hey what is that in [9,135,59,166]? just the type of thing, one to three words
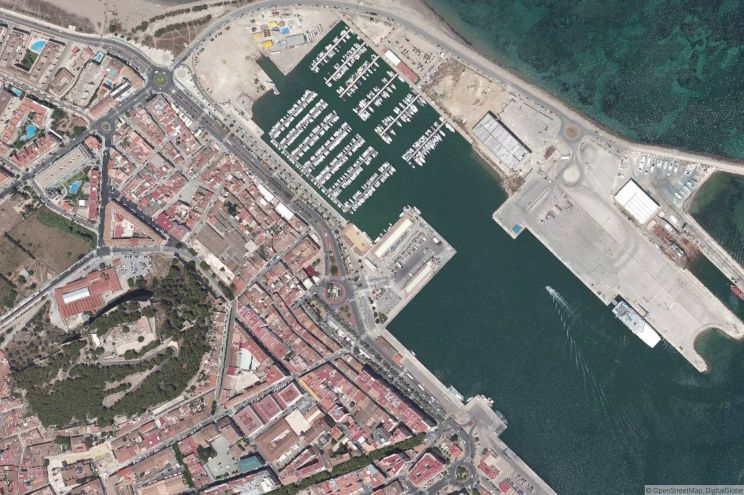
building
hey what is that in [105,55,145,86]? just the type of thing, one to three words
building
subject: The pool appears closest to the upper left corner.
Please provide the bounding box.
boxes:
[30,39,47,52]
